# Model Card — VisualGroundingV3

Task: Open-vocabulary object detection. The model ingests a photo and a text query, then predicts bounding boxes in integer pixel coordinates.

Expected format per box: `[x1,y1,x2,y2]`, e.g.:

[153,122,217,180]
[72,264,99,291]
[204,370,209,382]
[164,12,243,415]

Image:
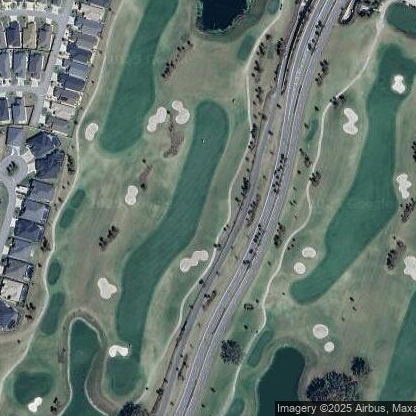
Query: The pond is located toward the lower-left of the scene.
[62,319,104,416]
